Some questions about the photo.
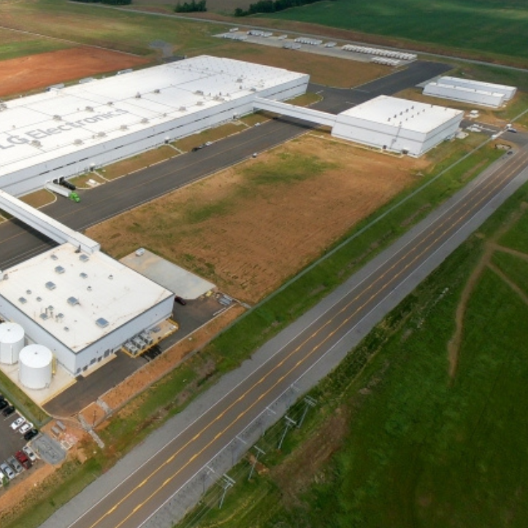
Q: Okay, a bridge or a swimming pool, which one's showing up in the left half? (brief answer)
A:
bridge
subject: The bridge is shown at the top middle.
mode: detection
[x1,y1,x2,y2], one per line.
[246,97,338,125]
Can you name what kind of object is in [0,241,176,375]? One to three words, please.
building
